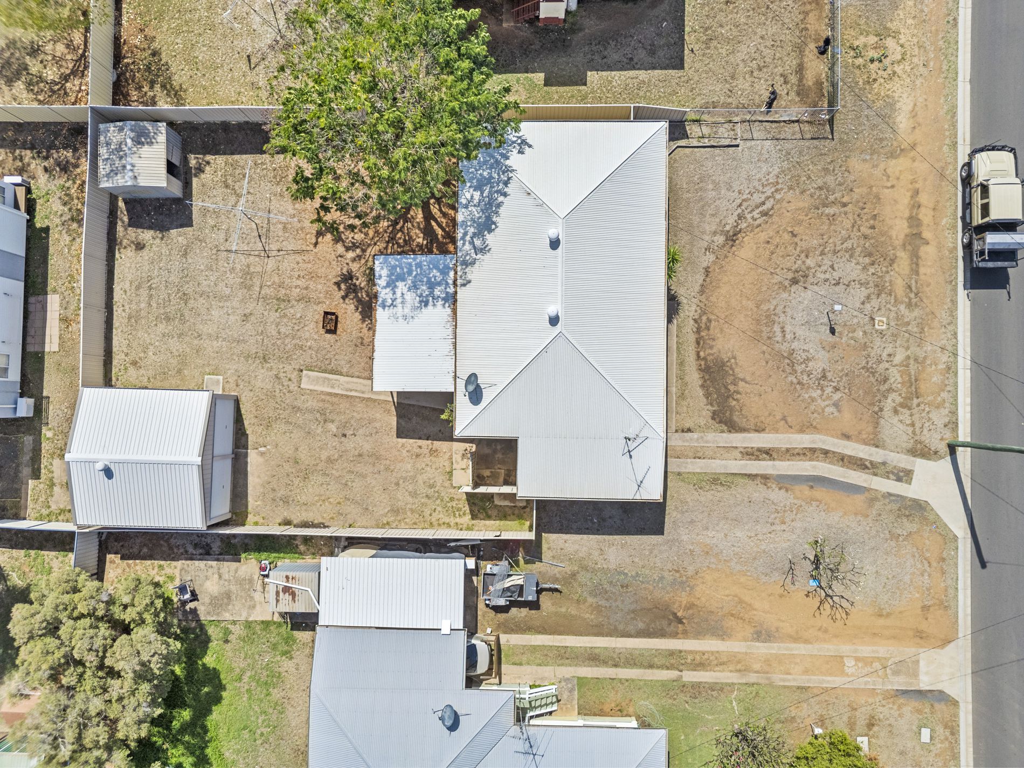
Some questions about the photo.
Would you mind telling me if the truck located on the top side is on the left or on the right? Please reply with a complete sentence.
It is on the right.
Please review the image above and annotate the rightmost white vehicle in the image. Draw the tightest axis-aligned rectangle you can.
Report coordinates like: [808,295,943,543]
[956,132,1024,270]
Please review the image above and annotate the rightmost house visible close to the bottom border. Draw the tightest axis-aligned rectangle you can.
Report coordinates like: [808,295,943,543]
[306,606,670,768]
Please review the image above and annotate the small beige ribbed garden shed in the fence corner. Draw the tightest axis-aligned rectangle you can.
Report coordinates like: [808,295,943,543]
[100,121,181,197]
